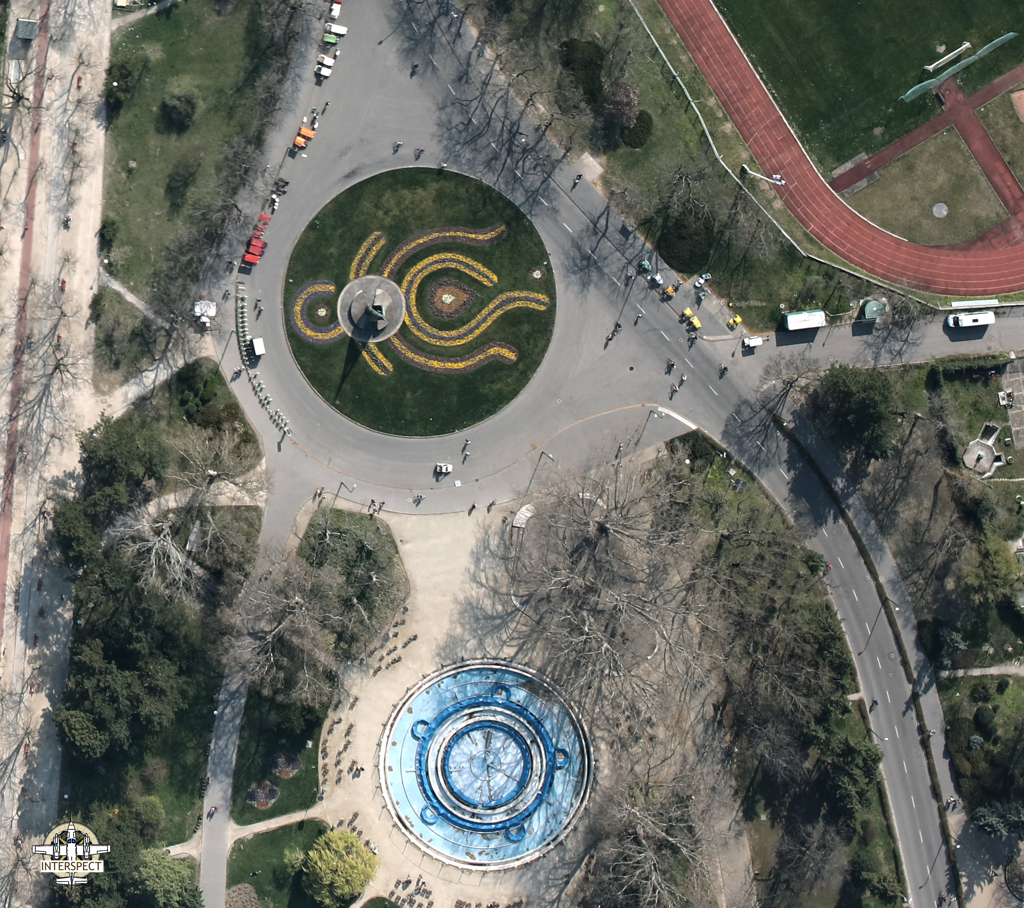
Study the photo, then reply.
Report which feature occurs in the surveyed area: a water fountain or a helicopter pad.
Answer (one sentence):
This aerial view contains a water fountain.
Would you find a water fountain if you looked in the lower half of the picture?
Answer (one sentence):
Yes, I can see a water fountain in the lower half of the picture.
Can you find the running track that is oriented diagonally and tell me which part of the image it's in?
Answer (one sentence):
The running track that is oriented diagonally sits in the top right section of the image.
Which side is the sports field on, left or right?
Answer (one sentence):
You can find the sports field on the right side of the picture.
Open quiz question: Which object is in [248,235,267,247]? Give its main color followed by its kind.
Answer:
red vehicle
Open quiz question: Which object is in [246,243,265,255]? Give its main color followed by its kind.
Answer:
red vehicle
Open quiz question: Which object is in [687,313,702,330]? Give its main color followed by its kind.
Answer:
yellow car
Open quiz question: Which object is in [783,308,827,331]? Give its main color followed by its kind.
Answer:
white trailer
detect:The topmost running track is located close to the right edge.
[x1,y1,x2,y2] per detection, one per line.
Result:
[658,0,1024,296]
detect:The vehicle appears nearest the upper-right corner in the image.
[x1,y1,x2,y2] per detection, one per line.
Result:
[946,309,993,328]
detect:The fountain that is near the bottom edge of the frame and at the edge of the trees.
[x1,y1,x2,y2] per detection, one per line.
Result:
[380,658,594,872]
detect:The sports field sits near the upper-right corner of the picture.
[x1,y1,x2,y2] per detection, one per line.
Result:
[711,0,1024,245]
